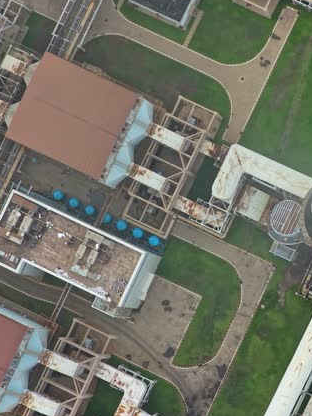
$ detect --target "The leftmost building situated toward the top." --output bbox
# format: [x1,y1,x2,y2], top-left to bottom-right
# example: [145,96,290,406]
[2,52,160,191]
